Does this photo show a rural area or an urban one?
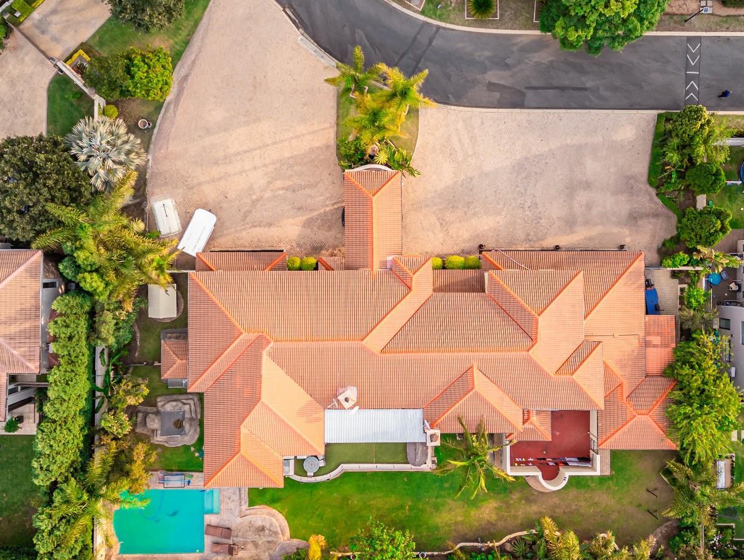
urban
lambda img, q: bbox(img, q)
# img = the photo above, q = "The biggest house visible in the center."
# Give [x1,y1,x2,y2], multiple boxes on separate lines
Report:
[160,162,678,489]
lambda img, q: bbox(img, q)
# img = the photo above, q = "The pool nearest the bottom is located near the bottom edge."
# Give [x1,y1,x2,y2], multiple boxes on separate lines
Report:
[110,487,221,557]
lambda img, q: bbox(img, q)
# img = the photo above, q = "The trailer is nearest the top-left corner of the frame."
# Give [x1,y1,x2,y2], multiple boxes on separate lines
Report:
[152,191,183,235]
